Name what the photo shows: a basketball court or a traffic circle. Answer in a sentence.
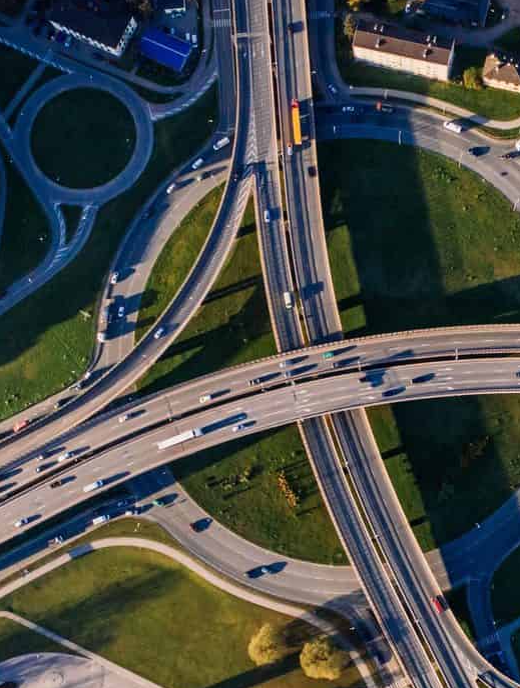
Visible in the photo is a traffic circle.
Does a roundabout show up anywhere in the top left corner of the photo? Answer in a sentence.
Yes, looking in the top left corner of the photo, one can make out a roundabout.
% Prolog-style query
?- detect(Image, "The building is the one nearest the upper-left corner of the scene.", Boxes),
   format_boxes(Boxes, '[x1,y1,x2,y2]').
[47,0,141,60]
